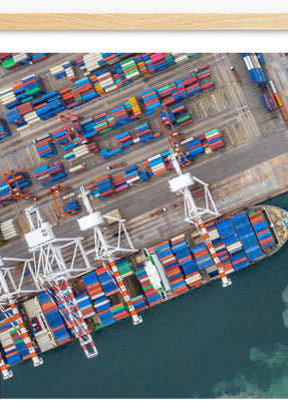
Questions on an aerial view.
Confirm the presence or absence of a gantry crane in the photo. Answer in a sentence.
Yes, there's a gantry crane down there.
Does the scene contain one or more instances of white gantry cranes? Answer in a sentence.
Yes, I can see a white gantry crane in this picture.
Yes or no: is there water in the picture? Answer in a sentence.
Yes, the picture does contain water.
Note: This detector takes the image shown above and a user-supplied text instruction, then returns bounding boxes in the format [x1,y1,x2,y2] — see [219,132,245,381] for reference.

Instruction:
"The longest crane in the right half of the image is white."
[164,148,231,285]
